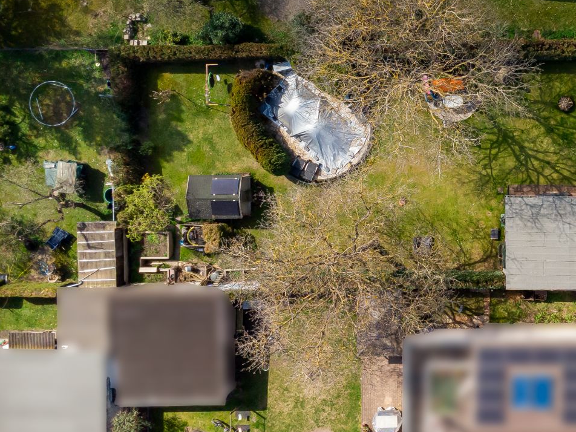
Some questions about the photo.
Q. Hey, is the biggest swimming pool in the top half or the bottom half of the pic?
top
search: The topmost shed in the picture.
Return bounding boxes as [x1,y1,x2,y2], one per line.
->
[46,161,96,193]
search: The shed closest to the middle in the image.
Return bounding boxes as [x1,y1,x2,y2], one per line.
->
[184,176,252,219]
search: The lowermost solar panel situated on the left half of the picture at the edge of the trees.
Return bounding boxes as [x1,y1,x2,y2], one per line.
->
[210,201,238,217]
